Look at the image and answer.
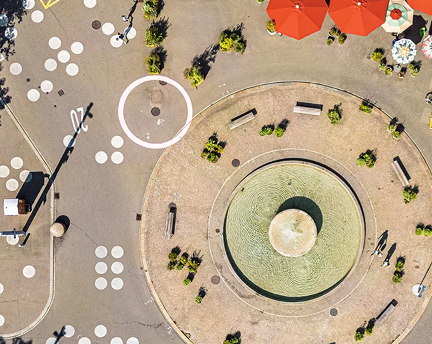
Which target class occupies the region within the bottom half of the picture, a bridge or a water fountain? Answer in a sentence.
You can see a water fountain within the bottom half of the picture.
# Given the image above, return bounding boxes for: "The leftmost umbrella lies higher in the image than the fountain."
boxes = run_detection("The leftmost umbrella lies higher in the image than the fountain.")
[266,0,327,41]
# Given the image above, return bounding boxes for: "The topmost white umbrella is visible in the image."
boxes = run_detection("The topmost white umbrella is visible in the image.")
[383,3,413,31]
